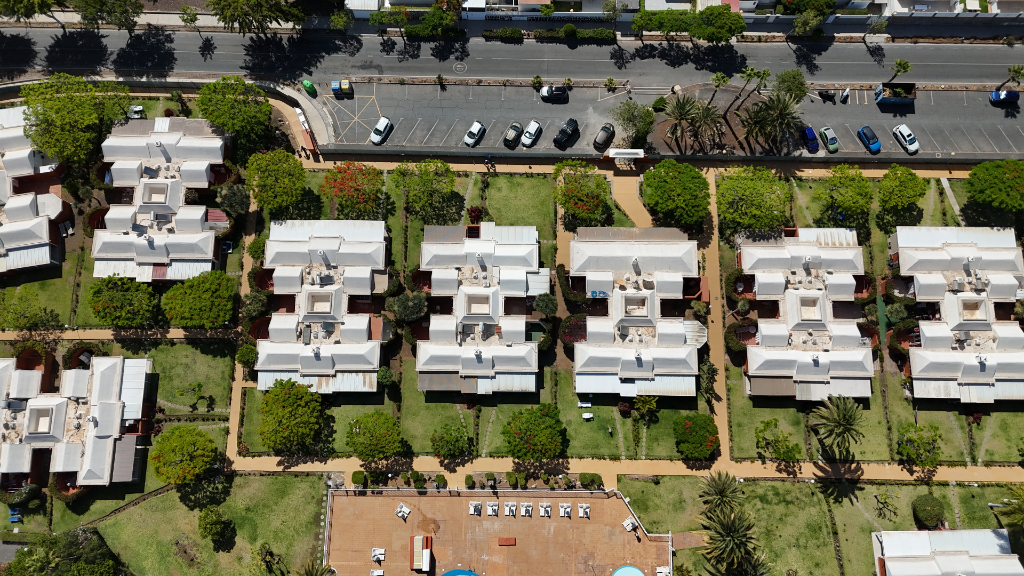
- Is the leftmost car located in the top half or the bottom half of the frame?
top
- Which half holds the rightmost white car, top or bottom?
top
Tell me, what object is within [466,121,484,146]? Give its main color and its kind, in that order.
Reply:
white car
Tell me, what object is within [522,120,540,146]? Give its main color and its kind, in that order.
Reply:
white car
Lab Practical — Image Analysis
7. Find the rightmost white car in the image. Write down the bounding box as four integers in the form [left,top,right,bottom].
[894,125,918,153]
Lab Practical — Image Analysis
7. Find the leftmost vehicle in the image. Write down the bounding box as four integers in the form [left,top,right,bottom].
[371,116,392,145]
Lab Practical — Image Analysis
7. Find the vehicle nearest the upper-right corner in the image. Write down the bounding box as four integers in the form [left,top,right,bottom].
[988,88,1021,104]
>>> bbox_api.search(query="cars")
[858,127,879,153]
[802,128,819,151]
[594,124,612,149]
[988,88,1021,104]
[818,128,837,152]
[540,85,568,100]
[522,120,540,146]
[371,116,392,145]
[554,115,578,148]
[466,121,484,146]
[505,124,522,147]
[894,125,918,153]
